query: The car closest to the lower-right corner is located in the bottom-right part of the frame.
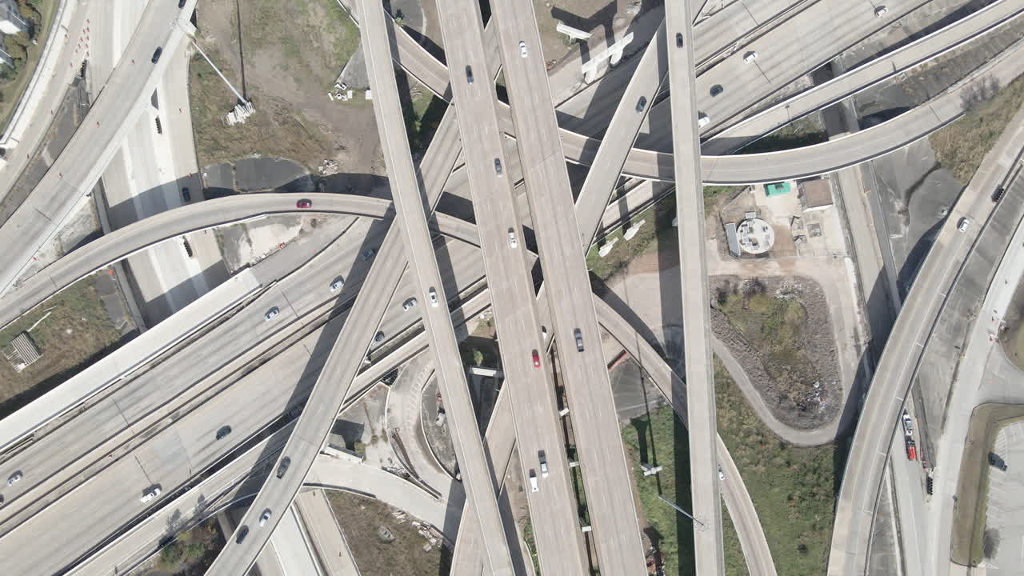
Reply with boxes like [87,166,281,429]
[990,455,1005,468]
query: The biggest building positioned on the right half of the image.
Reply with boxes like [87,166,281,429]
[800,180,832,209]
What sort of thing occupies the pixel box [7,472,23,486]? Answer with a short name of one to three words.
car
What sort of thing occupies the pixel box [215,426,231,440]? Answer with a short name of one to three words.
car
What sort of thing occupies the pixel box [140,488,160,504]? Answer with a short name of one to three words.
vehicle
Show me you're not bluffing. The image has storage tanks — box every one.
[739,217,777,255]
